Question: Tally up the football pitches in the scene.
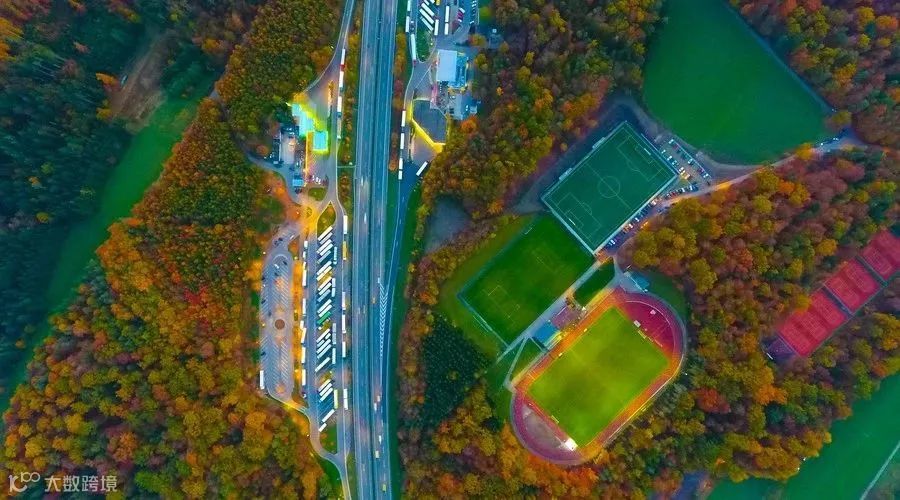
three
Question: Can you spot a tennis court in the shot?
Yes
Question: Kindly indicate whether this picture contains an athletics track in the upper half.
No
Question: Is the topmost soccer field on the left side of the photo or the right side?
right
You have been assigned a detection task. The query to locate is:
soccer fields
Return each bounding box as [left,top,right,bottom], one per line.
[529,311,669,448]
[541,120,679,254]
[460,214,595,348]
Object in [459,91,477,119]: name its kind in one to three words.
building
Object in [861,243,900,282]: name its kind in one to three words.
tennis court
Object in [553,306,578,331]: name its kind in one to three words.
building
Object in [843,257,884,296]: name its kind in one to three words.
tennis court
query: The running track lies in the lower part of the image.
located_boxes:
[512,294,686,465]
